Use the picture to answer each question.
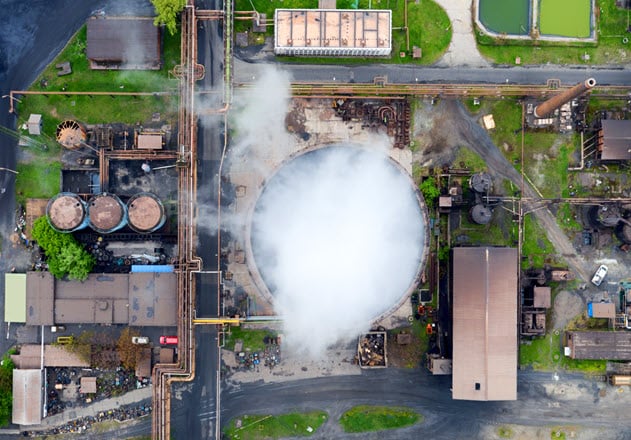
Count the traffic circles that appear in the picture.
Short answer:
0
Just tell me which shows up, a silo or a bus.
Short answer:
silo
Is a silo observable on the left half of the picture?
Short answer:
Yes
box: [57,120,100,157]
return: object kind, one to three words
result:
silo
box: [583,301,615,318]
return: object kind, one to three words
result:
building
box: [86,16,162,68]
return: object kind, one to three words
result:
shed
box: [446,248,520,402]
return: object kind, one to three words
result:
building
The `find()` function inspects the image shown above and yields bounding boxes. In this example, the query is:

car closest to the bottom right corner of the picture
[589,264,609,286]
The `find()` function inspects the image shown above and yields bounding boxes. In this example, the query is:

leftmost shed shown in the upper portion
[26,113,46,136]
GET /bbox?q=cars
[589,264,609,286]
[132,335,150,344]
[160,335,178,344]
